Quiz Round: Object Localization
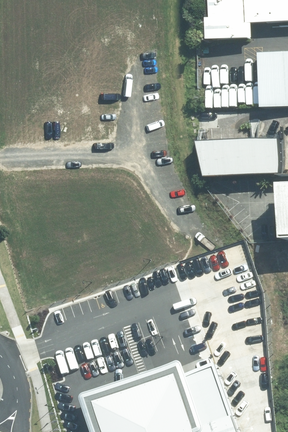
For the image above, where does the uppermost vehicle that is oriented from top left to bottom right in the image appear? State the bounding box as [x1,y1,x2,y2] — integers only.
[194,232,216,250]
